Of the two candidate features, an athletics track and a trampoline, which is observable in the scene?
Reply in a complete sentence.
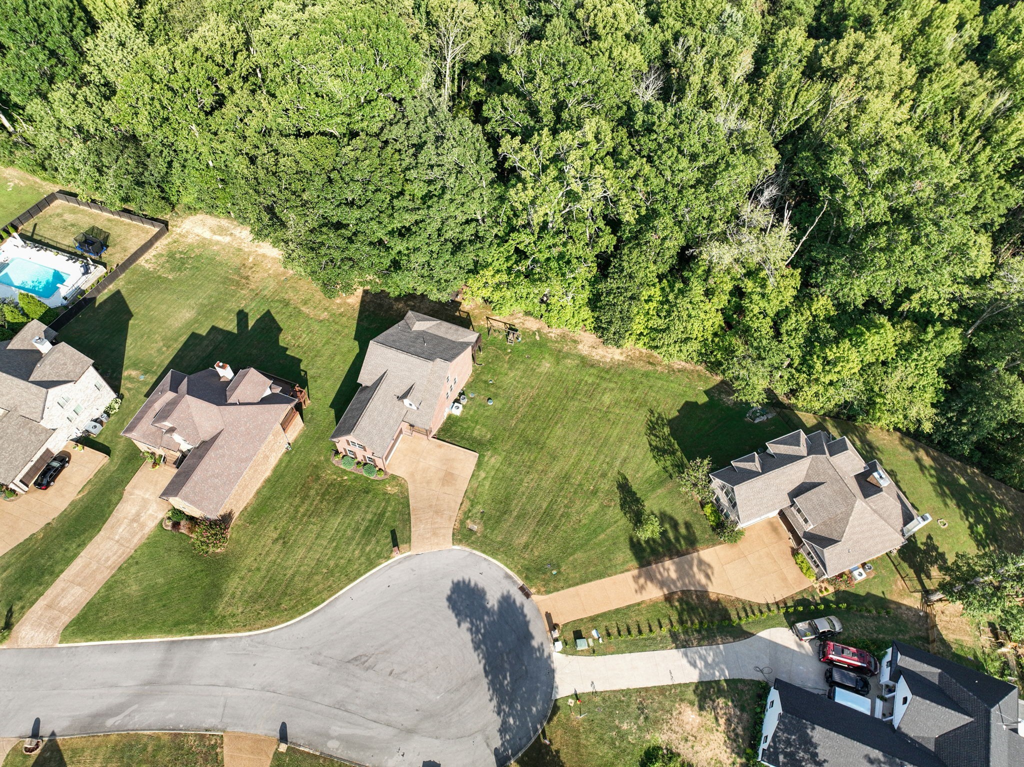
Of the two, only a trampoline appears.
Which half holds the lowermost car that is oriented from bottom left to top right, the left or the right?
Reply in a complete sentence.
It is on the left.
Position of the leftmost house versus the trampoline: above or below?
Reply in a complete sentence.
The leftmost house is below the trampoline.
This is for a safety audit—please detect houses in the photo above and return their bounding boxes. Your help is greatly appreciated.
[120,360,309,527]
[707,429,934,587]
[329,310,482,471]
[758,640,1024,767]
[0,318,116,493]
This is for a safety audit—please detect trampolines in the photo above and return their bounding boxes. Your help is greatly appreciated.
[70,234,108,263]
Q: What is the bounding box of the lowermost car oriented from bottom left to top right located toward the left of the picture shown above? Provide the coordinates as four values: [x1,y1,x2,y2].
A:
[31,455,72,492]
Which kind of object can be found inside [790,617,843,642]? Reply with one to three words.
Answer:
truck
